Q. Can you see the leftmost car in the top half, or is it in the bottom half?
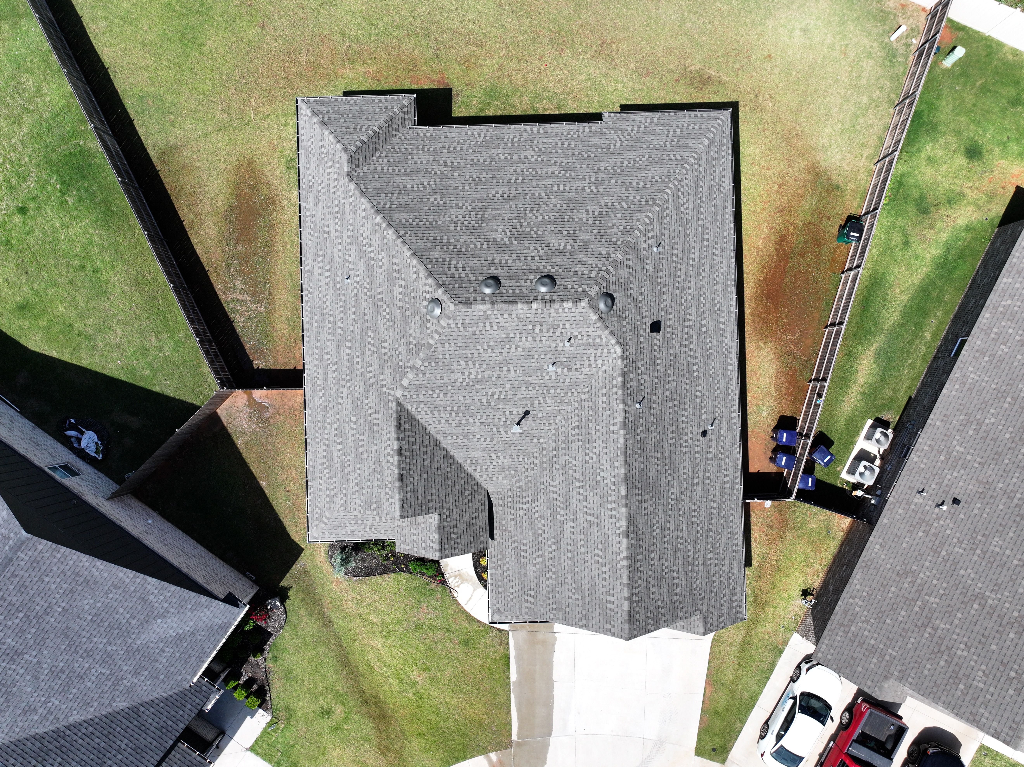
bottom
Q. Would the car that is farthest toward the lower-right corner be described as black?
Yes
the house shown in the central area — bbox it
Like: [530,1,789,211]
[296,94,747,636]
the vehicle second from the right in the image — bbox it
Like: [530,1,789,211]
[815,696,906,767]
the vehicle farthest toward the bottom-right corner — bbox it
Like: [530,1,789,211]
[905,739,963,767]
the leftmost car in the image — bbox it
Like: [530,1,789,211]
[760,662,842,767]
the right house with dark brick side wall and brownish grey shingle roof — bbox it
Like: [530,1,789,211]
[795,219,1024,757]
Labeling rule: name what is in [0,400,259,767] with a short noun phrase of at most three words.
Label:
house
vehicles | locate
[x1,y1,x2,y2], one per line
[905,739,963,767]
[760,662,842,767]
[815,696,906,767]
